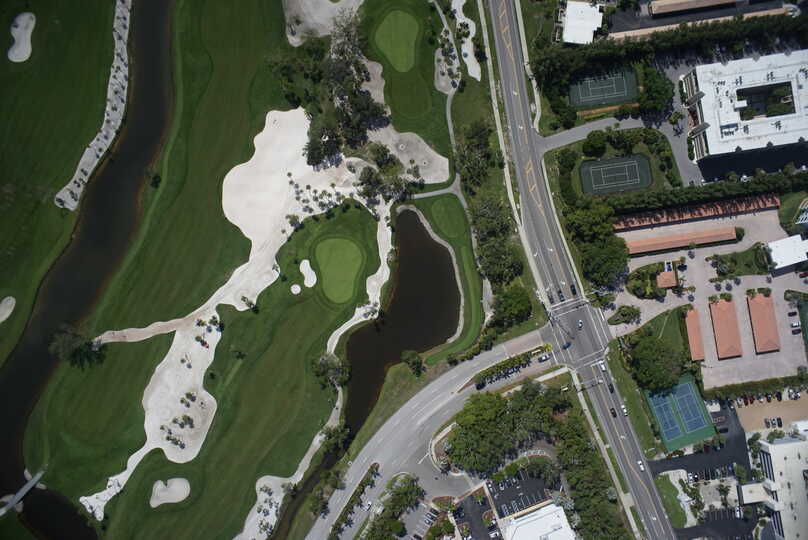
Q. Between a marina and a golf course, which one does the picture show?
golf course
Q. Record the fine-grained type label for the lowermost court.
tennis court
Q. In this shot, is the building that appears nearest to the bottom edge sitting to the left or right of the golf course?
on its right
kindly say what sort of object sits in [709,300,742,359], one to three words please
building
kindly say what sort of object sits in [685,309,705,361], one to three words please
building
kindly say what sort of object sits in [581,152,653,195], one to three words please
tennis court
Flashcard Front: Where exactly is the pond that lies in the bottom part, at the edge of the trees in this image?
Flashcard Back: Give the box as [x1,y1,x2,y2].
[274,208,458,540]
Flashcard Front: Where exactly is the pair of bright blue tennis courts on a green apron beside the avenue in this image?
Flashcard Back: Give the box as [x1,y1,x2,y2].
[645,374,720,454]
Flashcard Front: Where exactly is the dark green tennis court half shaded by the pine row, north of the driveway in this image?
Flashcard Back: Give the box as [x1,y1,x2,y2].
[570,66,642,112]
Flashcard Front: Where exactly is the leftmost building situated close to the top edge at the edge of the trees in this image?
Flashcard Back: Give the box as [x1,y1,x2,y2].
[555,1,604,46]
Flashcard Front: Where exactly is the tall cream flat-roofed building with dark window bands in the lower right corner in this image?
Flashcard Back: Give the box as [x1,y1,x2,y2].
[739,417,808,540]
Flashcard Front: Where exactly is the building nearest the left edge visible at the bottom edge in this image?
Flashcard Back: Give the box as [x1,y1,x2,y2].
[504,499,576,540]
